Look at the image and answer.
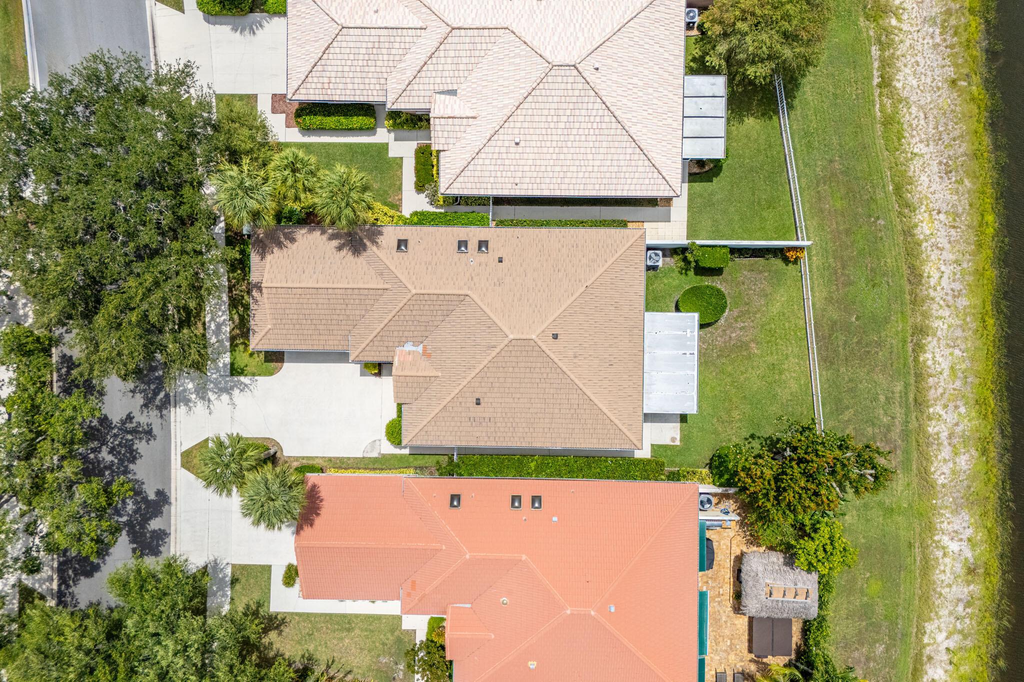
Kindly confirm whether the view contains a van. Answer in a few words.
No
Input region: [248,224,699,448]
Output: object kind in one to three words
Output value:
house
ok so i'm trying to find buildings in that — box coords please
[294,472,709,682]
[286,0,726,205]
[248,224,699,448]
[735,550,820,621]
